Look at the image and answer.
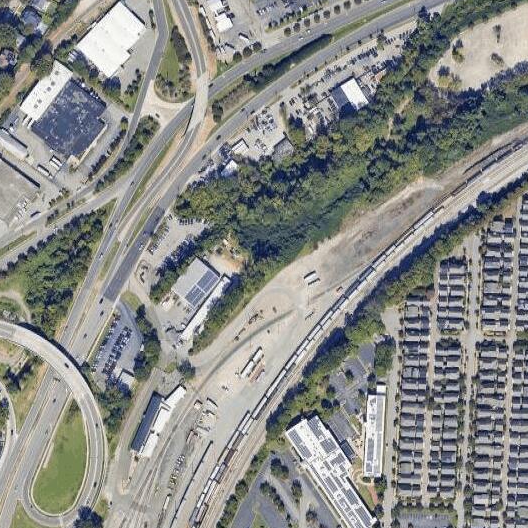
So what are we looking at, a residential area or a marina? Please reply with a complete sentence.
The area seen from above is a residential area.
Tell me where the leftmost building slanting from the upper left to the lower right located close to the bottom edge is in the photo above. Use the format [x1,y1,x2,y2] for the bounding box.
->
[285,415,377,528]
